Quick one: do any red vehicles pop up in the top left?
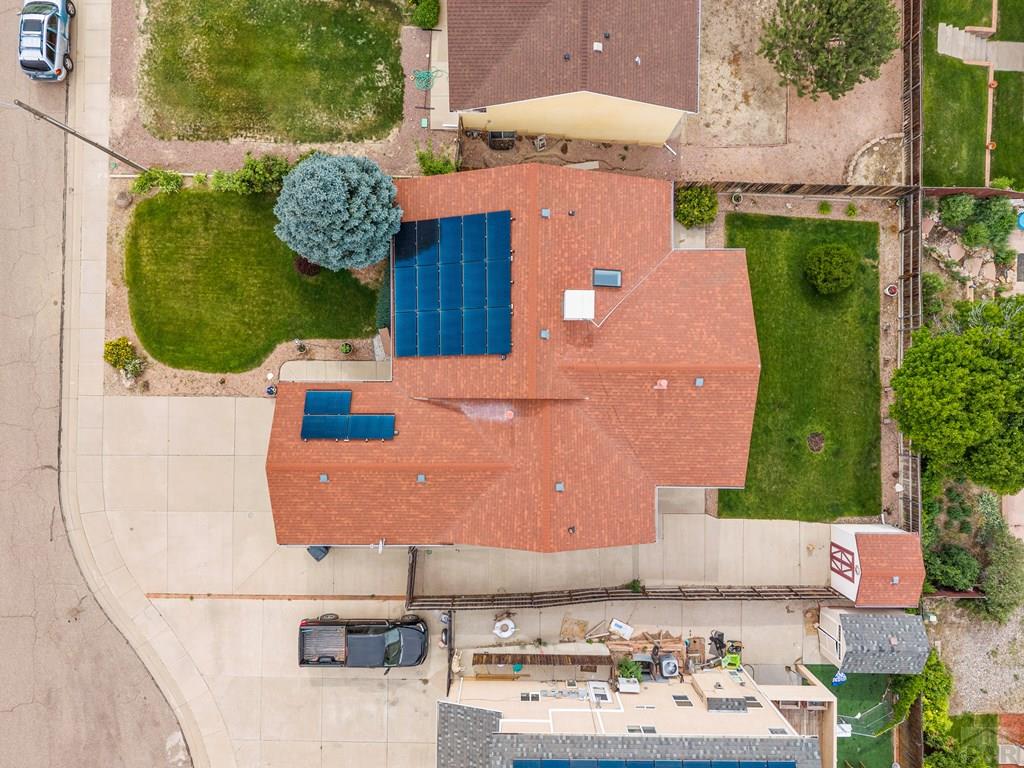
No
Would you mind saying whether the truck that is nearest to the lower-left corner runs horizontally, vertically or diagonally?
horizontally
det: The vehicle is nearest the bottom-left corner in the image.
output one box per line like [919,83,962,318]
[297,614,429,675]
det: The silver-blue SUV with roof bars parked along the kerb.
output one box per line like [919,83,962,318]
[17,0,76,83]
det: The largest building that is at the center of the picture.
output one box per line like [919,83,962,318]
[267,164,760,551]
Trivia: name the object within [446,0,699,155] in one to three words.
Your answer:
house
